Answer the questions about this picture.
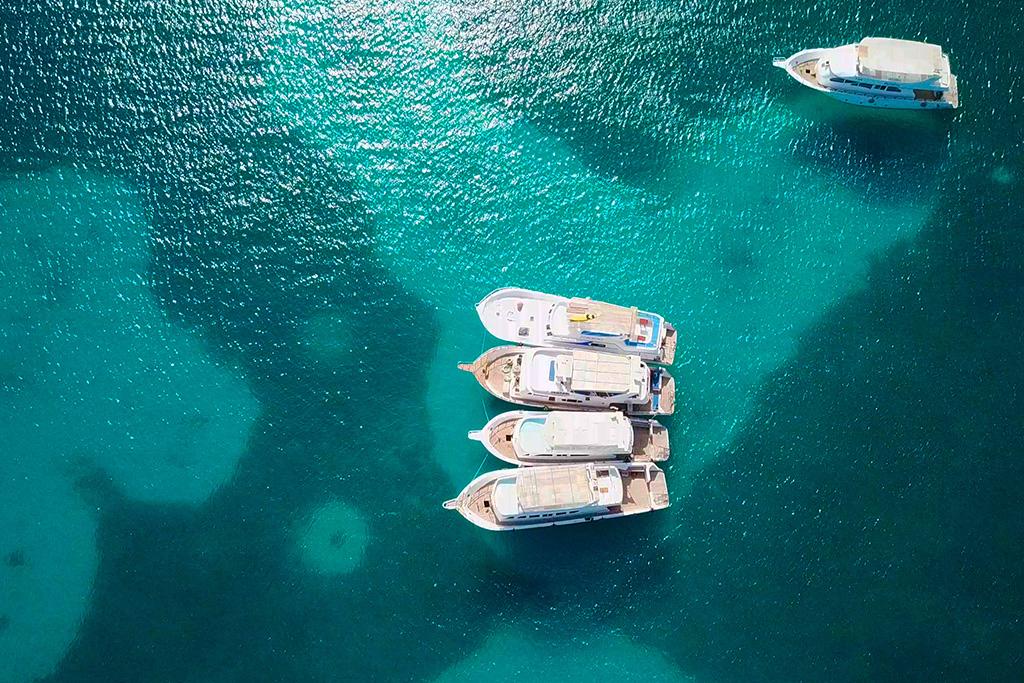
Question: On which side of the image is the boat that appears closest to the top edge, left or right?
right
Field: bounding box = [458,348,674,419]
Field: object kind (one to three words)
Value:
boat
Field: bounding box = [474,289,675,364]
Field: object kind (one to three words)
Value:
boat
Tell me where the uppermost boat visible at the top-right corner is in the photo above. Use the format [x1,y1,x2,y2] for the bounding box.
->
[772,37,959,110]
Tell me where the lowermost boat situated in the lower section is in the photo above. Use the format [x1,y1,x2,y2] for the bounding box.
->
[441,458,670,529]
